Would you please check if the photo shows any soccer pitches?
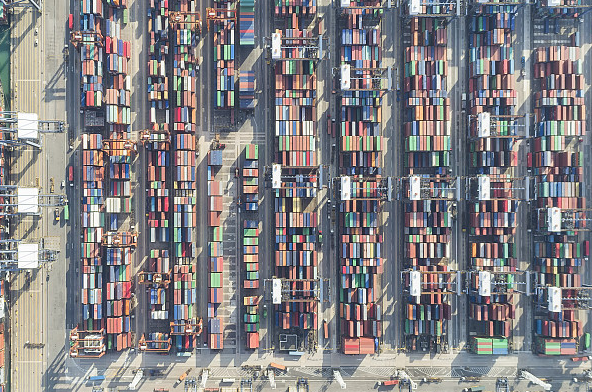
No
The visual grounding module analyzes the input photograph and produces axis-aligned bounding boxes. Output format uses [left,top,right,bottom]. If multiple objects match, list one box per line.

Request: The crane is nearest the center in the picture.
[265,163,331,193]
